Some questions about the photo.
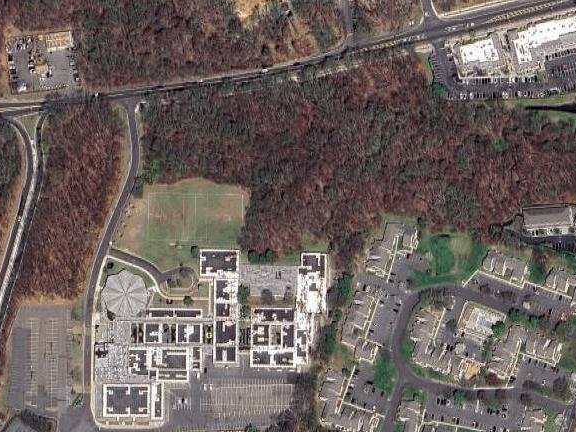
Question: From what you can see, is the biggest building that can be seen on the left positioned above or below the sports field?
below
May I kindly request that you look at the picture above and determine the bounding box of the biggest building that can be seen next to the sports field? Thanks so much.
[94,249,328,421]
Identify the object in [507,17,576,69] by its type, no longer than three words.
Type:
building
